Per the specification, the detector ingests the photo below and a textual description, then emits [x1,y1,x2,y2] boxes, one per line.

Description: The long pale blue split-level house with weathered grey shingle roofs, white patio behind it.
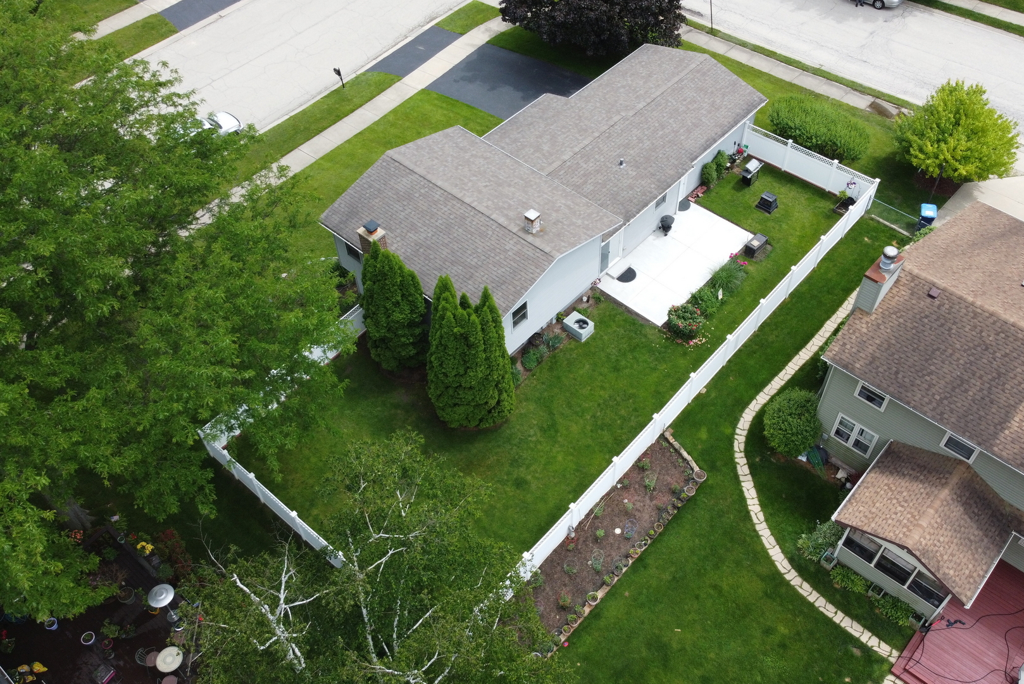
[316,45,769,361]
